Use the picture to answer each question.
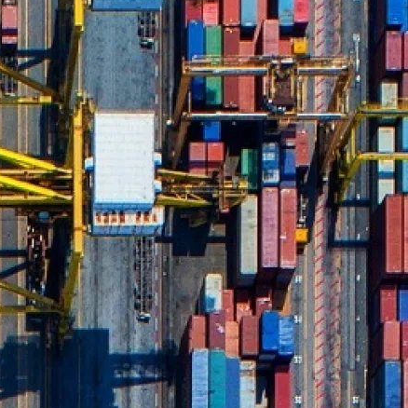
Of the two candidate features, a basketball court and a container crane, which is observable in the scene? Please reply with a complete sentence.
Looking from above, you can make out a container crane.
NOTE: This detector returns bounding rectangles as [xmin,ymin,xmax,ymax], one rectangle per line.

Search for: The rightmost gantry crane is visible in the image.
[339,100,408,211]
